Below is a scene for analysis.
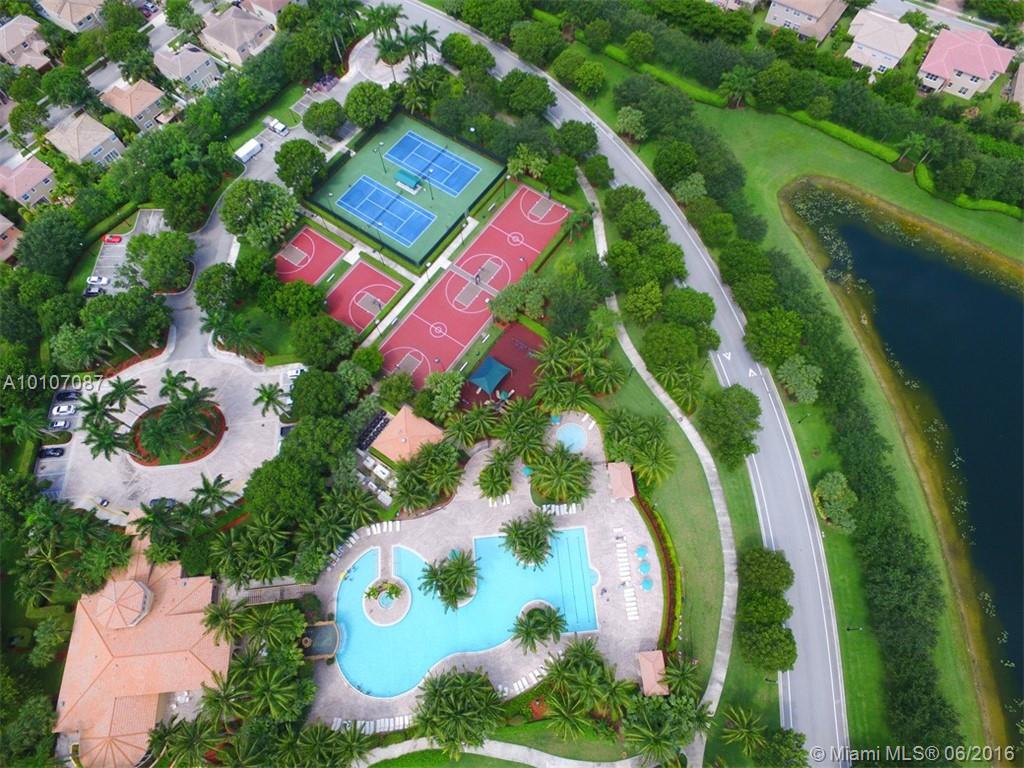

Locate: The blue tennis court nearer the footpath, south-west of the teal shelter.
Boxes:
[336,175,437,246]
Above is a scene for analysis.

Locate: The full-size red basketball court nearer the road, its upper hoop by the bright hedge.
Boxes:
[452,183,573,288]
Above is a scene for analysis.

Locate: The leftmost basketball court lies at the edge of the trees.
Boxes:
[273,224,346,283]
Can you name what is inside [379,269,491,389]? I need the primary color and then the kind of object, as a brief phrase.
red basketball court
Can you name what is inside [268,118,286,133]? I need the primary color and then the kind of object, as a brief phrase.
white vehicle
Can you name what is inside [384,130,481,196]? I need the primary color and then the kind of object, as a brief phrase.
blue tennis court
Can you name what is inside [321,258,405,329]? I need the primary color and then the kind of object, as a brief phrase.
red basketball court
